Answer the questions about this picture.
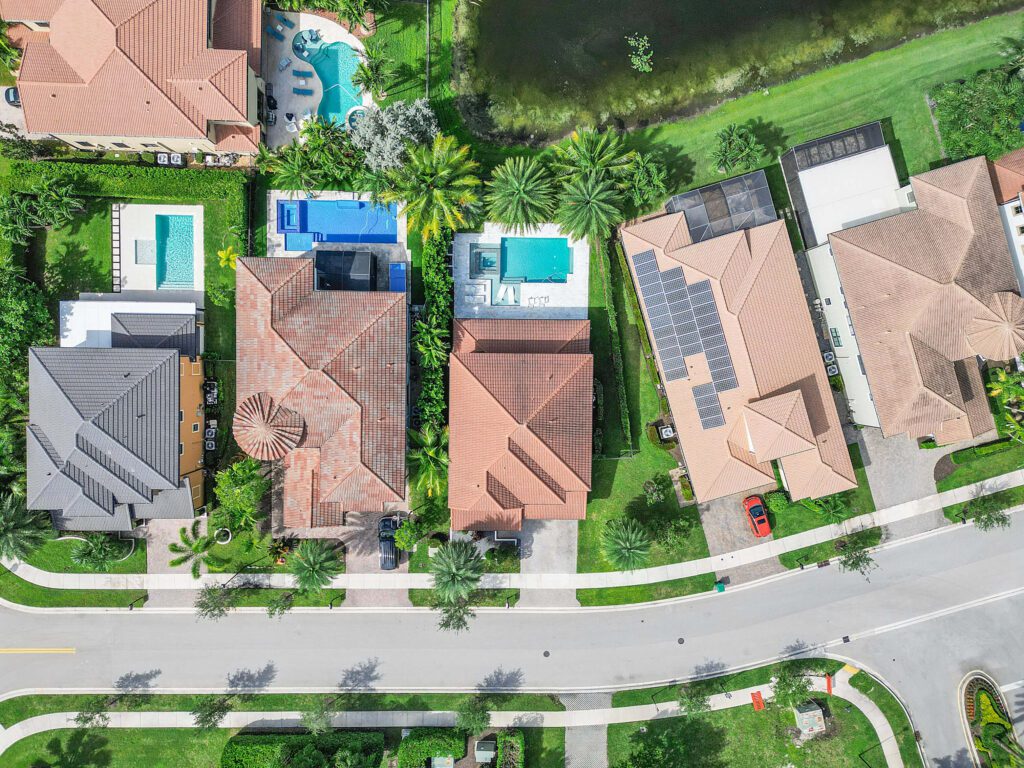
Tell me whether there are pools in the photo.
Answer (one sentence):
Yes, the frame does contain a pool.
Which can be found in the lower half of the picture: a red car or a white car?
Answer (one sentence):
What appears in the lower half of the picture is a red car.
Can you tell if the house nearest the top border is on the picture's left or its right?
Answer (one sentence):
The house nearest the top border sits on the left side.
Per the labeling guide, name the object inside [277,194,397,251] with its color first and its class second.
blue swimming pool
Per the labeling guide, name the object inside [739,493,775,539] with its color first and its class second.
red car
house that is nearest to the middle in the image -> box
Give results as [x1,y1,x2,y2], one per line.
[448,318,594,531]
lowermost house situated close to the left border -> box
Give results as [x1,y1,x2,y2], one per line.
[25,301,206,532]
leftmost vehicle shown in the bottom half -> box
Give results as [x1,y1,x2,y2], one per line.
[376,515,400,568]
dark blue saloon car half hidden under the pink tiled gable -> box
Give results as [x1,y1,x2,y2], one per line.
[2,84,22,108]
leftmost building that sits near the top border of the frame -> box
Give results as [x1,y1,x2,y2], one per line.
[0,0,266,159]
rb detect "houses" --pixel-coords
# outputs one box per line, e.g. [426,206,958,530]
[448,318,594,531]
[232,256,410,528]
[620,210,858,504]
[797,145,1024,446]
[0,0,266,159]
[25,301,206,532]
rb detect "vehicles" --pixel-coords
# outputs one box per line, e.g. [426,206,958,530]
[376,515,400,568]
[739,493,775,539]
[2,84,22,108]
